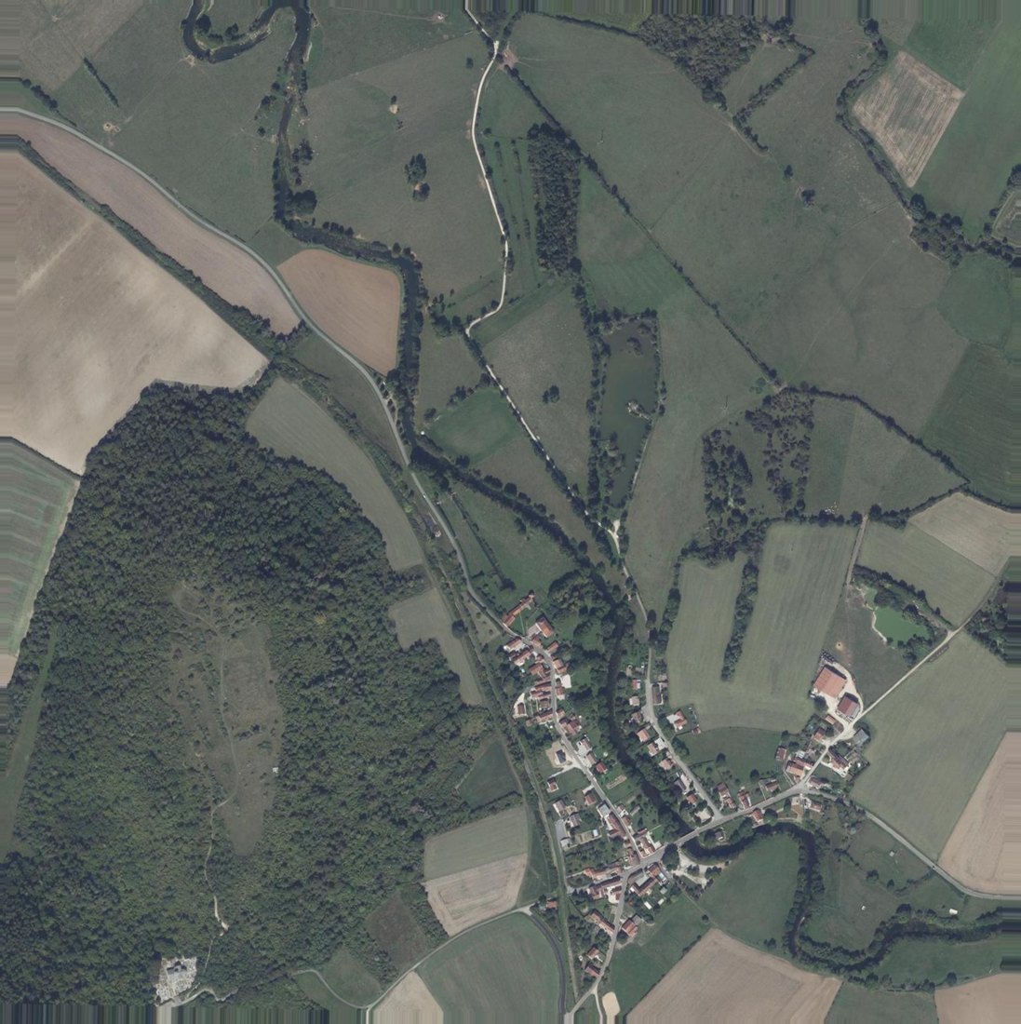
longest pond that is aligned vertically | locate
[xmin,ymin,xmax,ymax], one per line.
[600,319,657,506]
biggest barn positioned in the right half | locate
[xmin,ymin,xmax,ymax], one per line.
[814,667,849,700]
